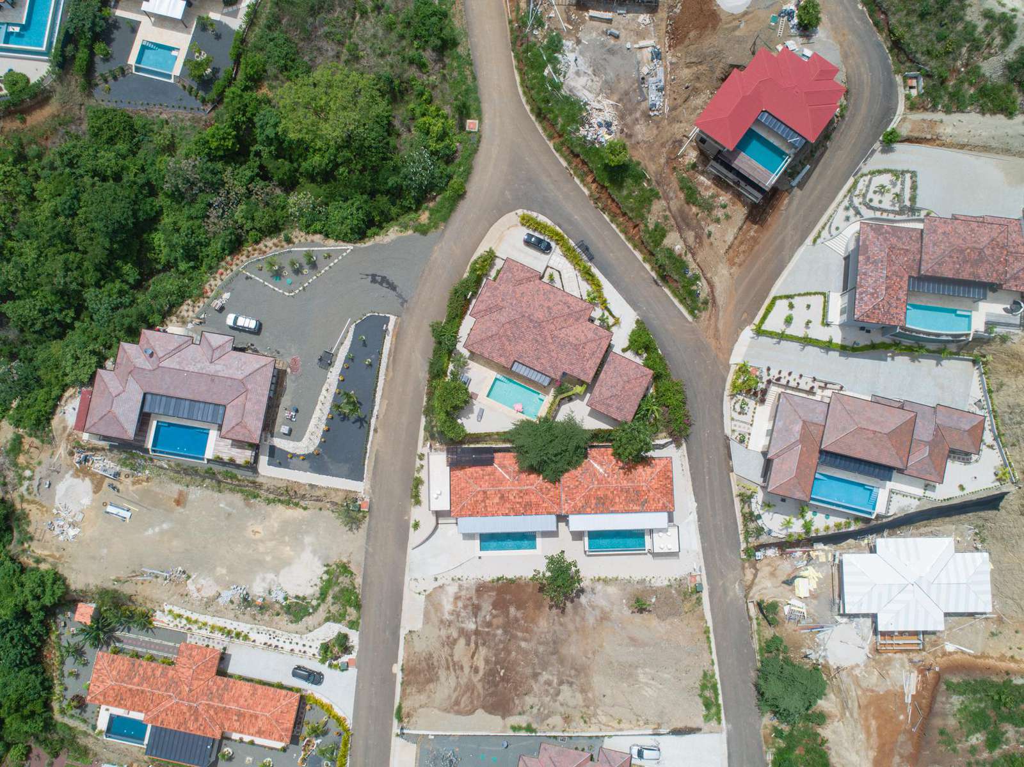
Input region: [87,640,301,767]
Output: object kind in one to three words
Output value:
house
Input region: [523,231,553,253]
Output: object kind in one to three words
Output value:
car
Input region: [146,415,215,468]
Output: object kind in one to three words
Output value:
swimming pool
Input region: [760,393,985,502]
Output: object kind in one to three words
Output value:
house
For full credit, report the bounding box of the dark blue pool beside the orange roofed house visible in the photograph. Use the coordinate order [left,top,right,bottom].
[102,709,152,749]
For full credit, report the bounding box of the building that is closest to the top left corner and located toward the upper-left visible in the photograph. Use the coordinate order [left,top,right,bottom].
[140,0,190,28]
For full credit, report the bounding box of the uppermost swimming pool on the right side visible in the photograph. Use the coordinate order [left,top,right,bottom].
[733,125,792,177]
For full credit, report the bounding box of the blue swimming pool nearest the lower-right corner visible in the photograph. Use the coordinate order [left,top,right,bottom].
[803,468,882,517]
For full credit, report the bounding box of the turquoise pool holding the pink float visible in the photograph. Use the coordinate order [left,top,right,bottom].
[481,368,553,425]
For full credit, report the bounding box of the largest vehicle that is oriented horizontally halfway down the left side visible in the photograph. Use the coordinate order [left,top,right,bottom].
[225,314,259,333]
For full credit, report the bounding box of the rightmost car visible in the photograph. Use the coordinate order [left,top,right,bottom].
[630,746,662,764]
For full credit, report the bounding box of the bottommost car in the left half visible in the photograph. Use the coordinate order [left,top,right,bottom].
[290,666,323,689]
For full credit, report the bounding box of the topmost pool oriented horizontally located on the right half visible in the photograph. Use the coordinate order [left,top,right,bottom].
[903,301,974,336]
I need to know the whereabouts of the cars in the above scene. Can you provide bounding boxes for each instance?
[225,314,259,333]
[630,746,662,764]
[290,666,323,689]
[523,231,553,253]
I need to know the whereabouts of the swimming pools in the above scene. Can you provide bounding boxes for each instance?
[803,468,882,517]
[903,301,974,336]
[102,709,152,749]
[146,415,215,468]
[127,33,187,85]
[0,0,61,52]
[481,368,553,425]
[476,531,539,554]
[733,125,792,177]
[584,529,649,557]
